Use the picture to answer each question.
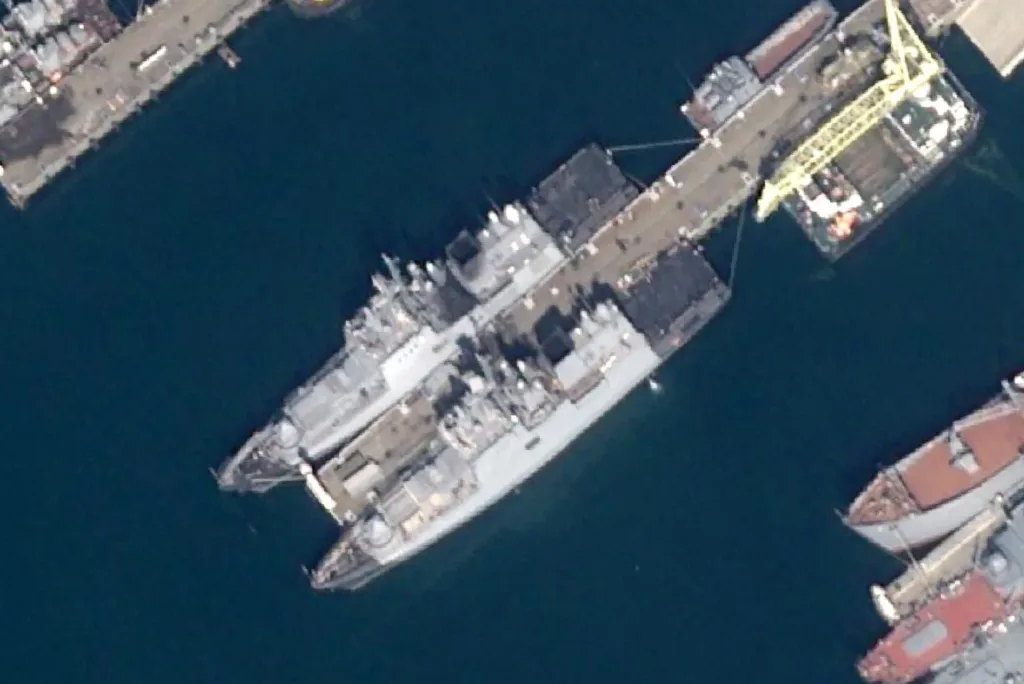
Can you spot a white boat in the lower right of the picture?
Yes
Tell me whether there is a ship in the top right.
Yes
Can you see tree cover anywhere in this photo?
No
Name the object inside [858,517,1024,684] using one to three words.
ship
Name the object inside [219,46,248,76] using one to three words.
pier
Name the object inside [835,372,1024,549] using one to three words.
ship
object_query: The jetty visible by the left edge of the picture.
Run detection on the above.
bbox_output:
[0,0,283,216]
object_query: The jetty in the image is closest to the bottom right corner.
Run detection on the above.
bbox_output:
[885,480,1024,612]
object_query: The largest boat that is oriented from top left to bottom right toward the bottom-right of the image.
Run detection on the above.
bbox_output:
[869,586,902,625]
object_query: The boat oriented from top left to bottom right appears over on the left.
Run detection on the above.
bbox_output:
[302,470,348,523]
